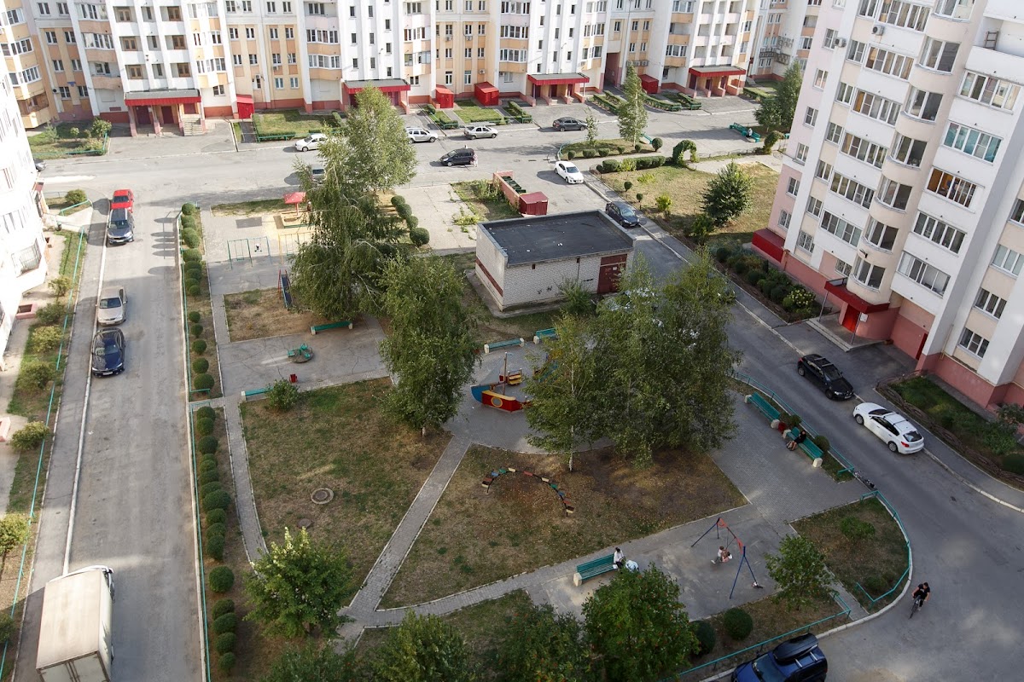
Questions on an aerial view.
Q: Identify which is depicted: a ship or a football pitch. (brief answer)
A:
ship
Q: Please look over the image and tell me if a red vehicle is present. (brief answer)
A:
Yes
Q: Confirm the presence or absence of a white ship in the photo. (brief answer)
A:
No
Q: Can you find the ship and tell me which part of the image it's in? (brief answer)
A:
center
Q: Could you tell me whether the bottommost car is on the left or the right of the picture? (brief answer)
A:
right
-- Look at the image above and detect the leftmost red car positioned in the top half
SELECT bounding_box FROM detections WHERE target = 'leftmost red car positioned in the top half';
[108,190,134,213]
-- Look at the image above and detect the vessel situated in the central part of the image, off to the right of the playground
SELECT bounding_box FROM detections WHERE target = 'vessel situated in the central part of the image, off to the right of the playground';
[463,354,545,412]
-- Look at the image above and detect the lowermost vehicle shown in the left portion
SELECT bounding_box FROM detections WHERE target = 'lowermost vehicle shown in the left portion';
[32,558,121,682]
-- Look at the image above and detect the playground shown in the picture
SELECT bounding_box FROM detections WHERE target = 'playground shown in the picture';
[200,191,398,396]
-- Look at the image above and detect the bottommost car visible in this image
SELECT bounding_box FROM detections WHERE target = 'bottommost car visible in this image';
[723,631,837,682]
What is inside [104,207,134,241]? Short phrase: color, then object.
gray car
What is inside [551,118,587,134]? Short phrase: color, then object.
gray car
